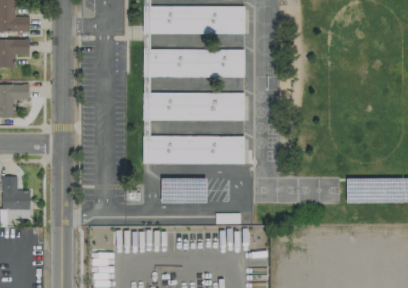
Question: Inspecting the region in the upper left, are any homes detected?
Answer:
Yes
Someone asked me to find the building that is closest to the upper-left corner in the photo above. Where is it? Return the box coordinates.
[0,0,30,32]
